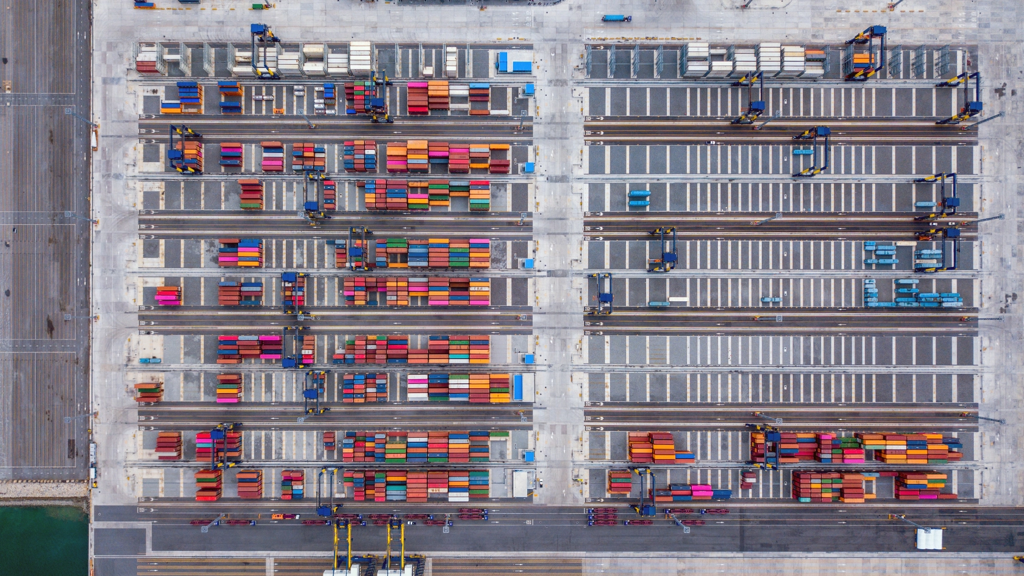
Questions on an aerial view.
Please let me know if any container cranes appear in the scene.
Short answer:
Yes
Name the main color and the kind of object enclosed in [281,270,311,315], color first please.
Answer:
blue container crane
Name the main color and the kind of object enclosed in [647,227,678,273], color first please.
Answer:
blue container crane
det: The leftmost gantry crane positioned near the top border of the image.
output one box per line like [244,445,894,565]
[249,24,281,80]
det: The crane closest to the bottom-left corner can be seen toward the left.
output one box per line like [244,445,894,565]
[209,422,243,471]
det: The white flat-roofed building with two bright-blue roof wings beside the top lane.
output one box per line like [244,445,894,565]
[497,52,534,73]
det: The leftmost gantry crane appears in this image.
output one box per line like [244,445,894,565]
[167,126,202,177]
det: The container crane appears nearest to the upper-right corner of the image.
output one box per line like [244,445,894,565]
[936,71,983,125]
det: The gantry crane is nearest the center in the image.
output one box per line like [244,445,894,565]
[586,271,614,316]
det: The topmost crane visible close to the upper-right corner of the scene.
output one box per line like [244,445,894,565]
[845,25,887,81]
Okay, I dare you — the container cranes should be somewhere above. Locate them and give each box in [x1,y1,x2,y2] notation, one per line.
[322,521,382,576]
[348,226,374,272]
[302,170,331,219]
[209,422,243,471]
[915,172,960,221]
[647,227,678,273]
[745,424,781,472]
[302,369,331,415]
[792,126,831,178]
[316,465,344,516]
[281,270,311,315]
[627,466,658,517]
[280,326,310,371]
[249,24,281,80]
[369,70,395,124]
[936,71,983,125]
[915,227,960,274]
[167,126,202,177]
[376,521,429,576]
[586,271,614,316]
[845,25,887,81]
[731,71,766,125]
